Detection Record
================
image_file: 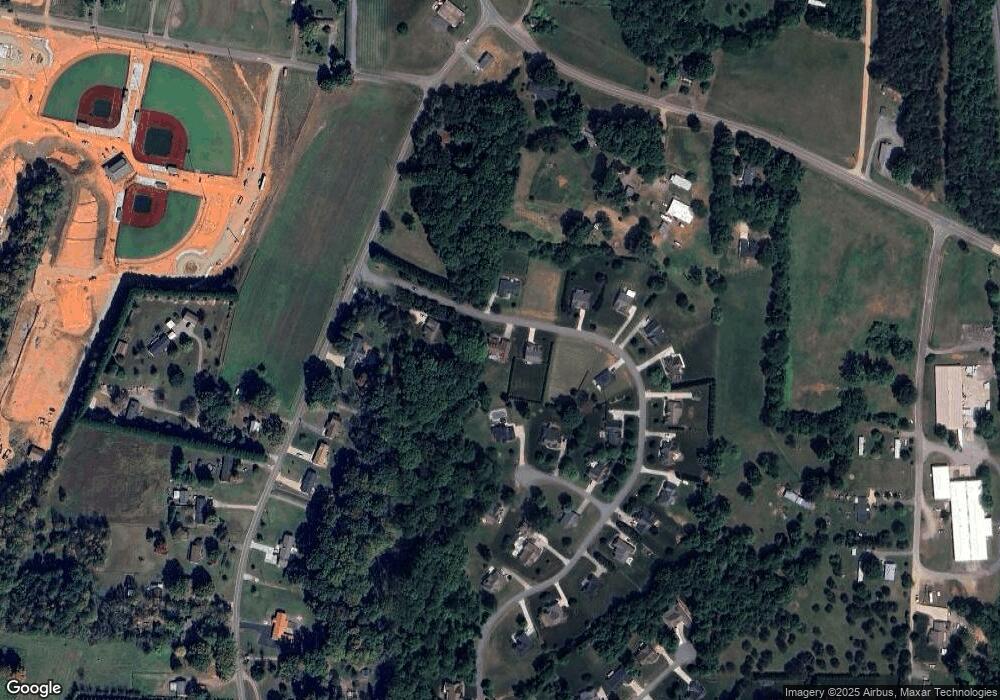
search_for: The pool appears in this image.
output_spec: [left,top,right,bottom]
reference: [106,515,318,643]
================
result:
[489,407,508,420]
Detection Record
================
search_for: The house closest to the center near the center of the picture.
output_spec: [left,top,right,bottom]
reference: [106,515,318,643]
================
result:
[488,340,509,361]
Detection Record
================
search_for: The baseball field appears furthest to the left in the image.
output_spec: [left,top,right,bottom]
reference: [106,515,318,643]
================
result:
[39,48,131,127]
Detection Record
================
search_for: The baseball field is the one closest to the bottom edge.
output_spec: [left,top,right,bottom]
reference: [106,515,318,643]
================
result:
[116,185,203,265]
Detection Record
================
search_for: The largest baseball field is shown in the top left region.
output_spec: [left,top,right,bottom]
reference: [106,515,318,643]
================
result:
[134,57,241,177]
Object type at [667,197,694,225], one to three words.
barn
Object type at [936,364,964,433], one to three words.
building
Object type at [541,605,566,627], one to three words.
house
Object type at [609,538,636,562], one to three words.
house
